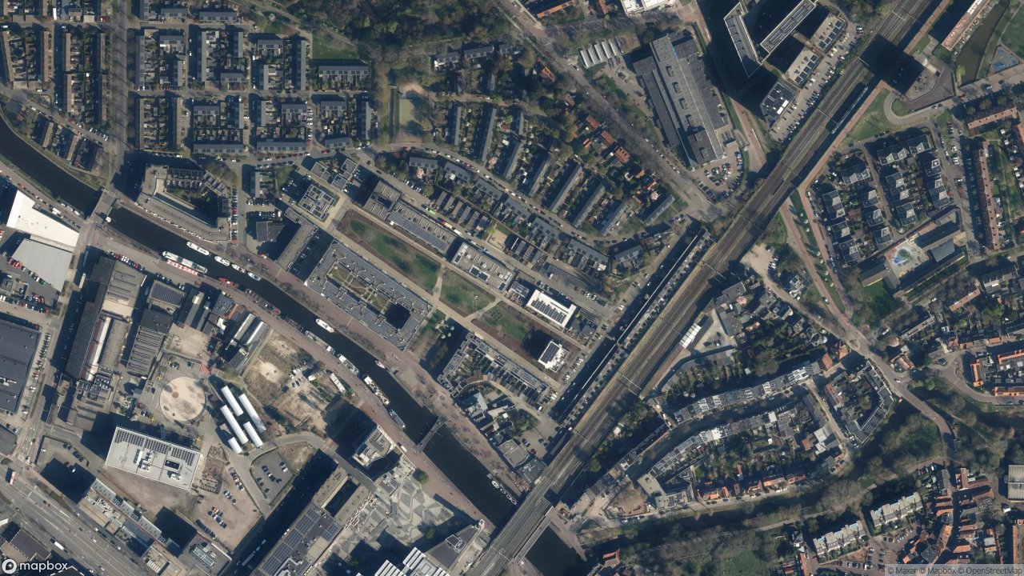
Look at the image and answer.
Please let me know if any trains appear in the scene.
Yes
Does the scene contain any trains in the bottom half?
No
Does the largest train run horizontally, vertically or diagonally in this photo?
diagonally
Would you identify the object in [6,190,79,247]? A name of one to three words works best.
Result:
building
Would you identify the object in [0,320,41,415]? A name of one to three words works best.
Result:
building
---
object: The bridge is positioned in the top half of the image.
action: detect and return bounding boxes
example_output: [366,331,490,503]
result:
[88,187,118,228]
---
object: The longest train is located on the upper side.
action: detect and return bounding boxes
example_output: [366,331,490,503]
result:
[833,87,867,132]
